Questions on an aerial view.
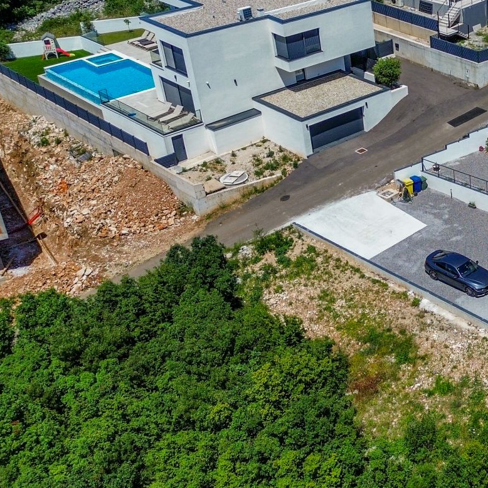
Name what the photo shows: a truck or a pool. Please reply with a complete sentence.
The image shows a pool.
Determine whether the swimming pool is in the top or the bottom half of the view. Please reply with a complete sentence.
It is in the top half that the swimming pool appears.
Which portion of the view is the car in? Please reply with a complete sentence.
Look in the right portion of the view to spot the car.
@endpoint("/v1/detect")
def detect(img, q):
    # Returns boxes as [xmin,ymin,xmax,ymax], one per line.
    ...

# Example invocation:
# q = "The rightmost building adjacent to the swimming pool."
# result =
[105,0,415,163]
